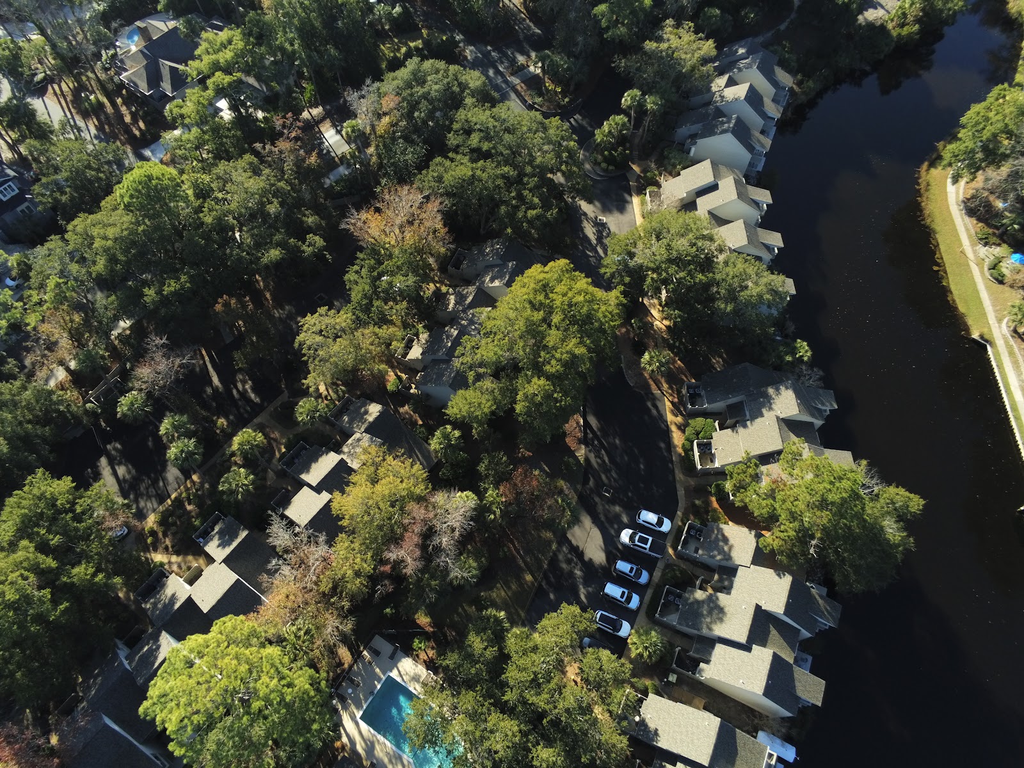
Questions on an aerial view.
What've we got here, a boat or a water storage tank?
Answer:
boat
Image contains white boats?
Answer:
No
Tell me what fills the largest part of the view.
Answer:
trees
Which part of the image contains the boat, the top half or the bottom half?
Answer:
bottom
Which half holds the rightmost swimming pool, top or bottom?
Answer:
bottom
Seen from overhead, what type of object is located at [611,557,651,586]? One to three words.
car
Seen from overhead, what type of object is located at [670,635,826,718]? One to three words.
house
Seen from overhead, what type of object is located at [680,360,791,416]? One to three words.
house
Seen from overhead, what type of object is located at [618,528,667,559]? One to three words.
truck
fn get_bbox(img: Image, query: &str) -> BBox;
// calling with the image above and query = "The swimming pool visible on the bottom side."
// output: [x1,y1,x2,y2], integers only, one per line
[355,669,463,768]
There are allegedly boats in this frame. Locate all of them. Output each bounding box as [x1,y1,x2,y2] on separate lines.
[755,727,803,761]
